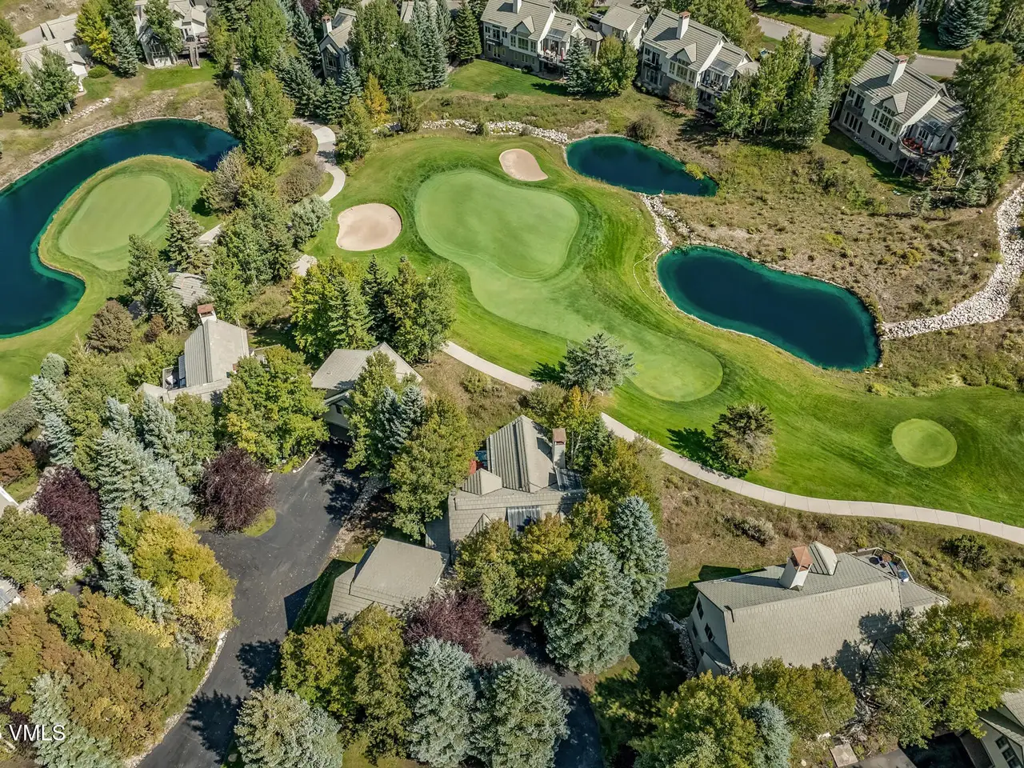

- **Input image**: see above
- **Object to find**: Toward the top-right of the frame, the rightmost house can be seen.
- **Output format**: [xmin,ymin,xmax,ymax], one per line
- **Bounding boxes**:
[840,50,980,172]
